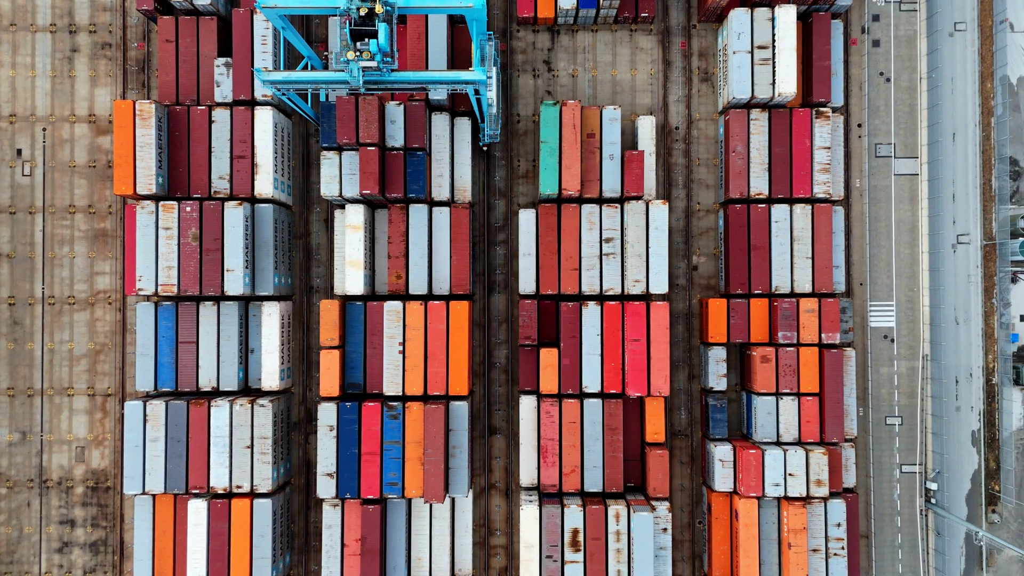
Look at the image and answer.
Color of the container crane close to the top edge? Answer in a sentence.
The color of the container crane close to the top edge is blue.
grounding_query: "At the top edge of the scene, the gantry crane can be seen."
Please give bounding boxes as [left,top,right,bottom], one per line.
[253,0,500,147]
